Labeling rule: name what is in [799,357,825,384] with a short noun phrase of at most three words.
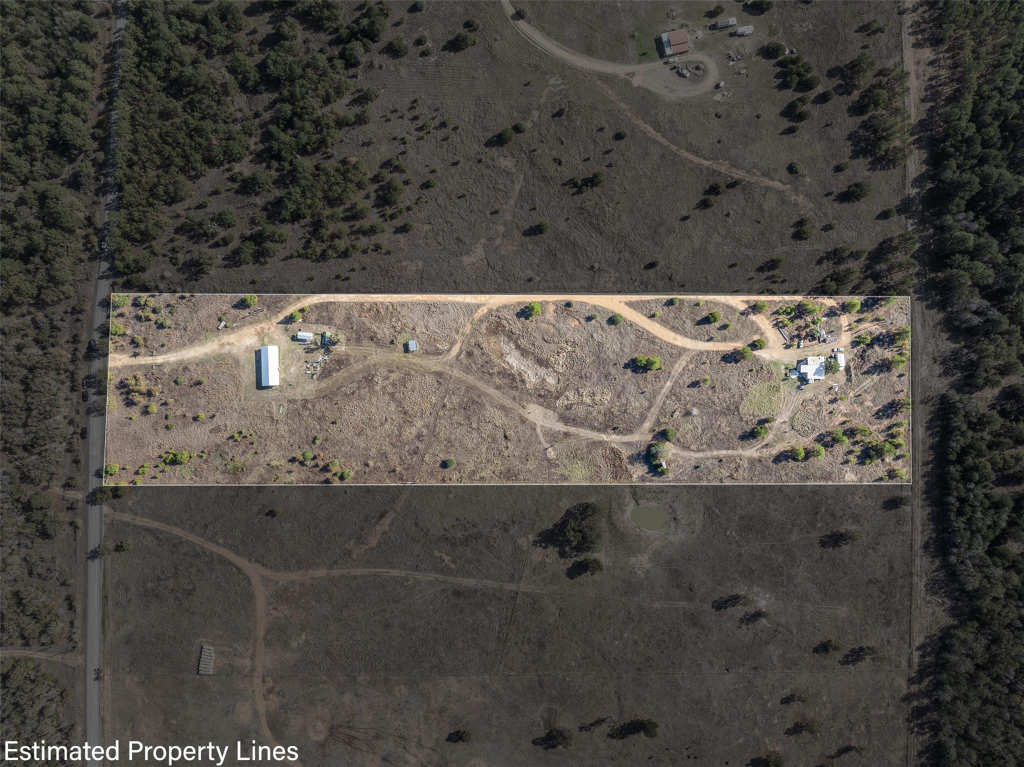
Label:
house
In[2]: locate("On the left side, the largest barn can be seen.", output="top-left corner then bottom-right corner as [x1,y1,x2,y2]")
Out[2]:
[260,345,282,386]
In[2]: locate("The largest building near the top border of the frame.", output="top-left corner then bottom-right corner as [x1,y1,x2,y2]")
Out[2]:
[660,29,689,58]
